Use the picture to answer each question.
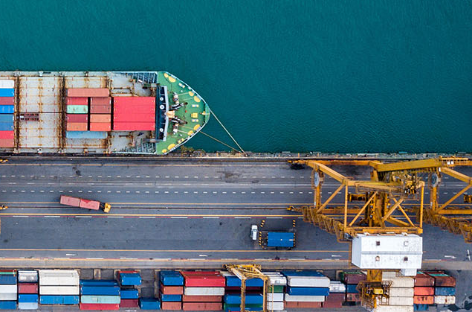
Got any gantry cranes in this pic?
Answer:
Yes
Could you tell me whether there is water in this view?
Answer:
Yes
